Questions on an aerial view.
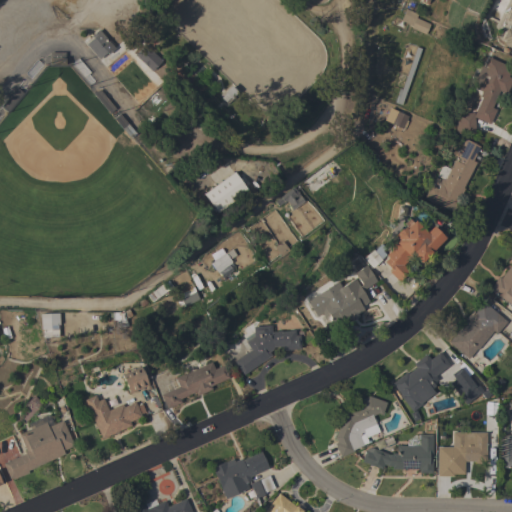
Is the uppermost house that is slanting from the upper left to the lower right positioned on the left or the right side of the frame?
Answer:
right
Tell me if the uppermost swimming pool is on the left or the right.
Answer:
right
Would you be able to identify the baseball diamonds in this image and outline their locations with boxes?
[0,66,196,296]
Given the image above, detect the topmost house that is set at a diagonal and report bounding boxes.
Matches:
[403,10,432,34]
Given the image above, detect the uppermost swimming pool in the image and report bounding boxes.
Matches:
[484,339,504,361]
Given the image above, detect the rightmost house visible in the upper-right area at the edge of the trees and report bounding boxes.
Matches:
[458,58,512,133]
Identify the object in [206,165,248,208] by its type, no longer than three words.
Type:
building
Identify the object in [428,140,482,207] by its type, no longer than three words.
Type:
house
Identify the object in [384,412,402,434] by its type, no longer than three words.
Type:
swimming pool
